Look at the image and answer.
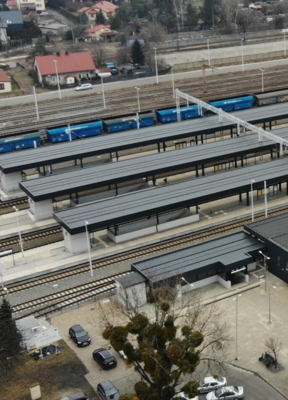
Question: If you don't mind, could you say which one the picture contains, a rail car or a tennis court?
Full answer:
It is a rail car that can be seen here.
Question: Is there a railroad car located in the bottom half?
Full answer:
No, I see no railroad car in the bottom half.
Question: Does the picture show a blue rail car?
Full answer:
Yes, the photo shows a blue rail car.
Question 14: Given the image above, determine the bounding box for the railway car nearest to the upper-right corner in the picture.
[252,87,288,106]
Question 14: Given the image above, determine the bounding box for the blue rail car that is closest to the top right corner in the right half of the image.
[209,94,255,114]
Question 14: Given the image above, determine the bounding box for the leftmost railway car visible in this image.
[0,129,50,153]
